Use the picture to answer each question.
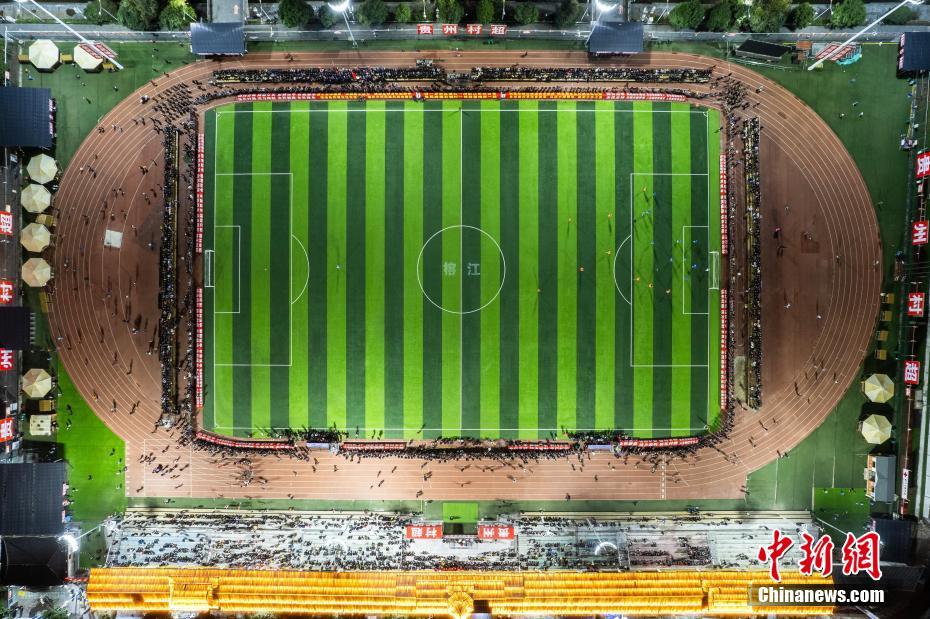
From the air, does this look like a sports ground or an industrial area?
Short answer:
sports ground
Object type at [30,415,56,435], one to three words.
tent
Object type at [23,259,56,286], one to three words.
umbrella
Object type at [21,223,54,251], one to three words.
umbrella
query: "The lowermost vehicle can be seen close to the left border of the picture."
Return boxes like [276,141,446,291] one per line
[4,150,17,165]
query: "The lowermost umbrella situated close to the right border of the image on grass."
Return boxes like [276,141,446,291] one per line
[857,415,890,443]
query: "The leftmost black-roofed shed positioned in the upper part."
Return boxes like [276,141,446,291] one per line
[730,40,791,64]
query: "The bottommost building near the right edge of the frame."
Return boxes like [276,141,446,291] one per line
[819,556,928,619]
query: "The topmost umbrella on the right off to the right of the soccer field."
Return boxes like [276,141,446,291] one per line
[860,375,893,402]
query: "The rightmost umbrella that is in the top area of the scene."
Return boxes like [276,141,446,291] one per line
[74,42,103,69]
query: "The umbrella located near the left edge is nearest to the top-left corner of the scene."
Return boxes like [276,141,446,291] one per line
[29,40,62,69]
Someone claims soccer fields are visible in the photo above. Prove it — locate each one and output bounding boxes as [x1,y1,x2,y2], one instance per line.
[197,98,726,443]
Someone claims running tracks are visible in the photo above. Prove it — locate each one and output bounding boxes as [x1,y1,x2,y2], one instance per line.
[45,48,882,500]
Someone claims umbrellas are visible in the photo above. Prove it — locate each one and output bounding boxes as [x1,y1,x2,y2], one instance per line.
[860,375,893,402]
[23,259,56,286]
[23,369,56,397]
[857,415,890,443]
[29,40,62,69]
[22,184,56,212]
[74,42,103,69]
[21,223,54,251]
[27,153,62,184]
